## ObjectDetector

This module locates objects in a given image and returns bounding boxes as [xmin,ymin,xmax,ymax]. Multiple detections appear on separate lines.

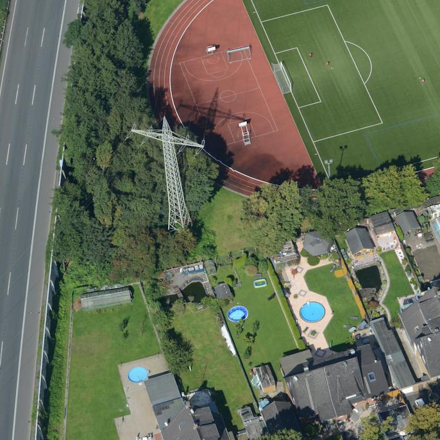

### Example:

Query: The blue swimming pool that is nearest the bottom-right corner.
[299,301,325,322]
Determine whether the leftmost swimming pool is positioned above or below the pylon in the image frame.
below it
